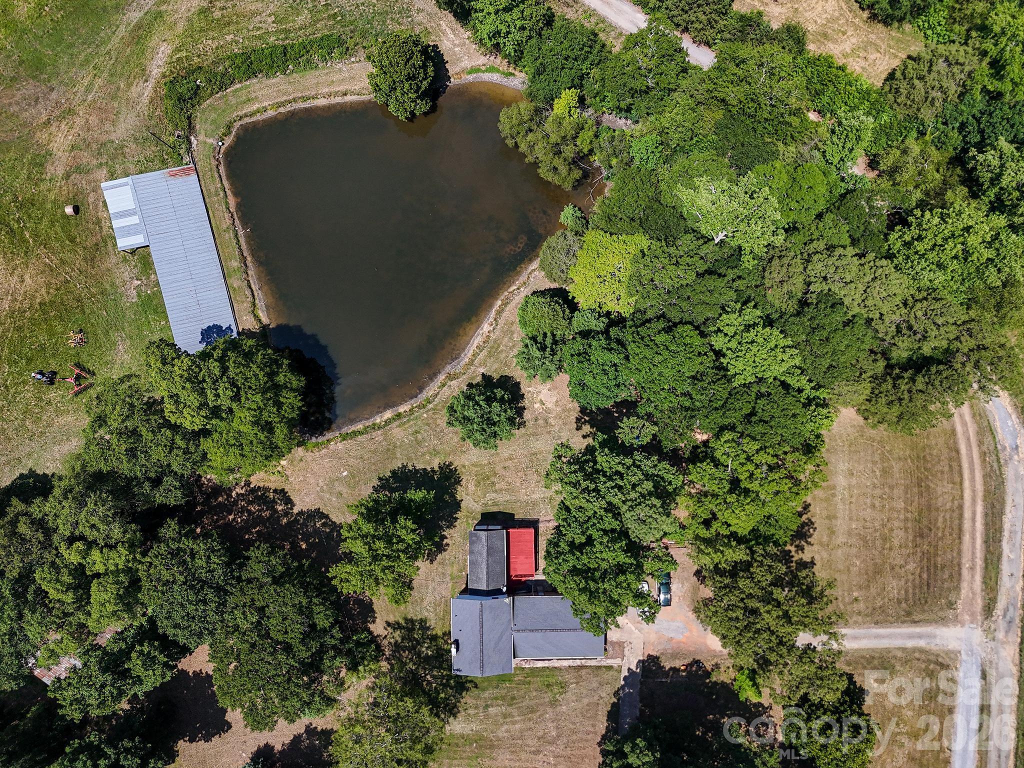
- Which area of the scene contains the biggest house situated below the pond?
bottom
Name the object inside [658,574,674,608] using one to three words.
car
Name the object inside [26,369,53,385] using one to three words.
work vehicle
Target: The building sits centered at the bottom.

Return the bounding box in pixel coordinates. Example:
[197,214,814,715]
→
[450,528,605,677]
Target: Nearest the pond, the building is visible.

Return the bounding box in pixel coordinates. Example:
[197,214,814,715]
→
[101,164,244,359]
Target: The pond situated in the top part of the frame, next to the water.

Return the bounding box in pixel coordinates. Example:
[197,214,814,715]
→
[225,85,606,440]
